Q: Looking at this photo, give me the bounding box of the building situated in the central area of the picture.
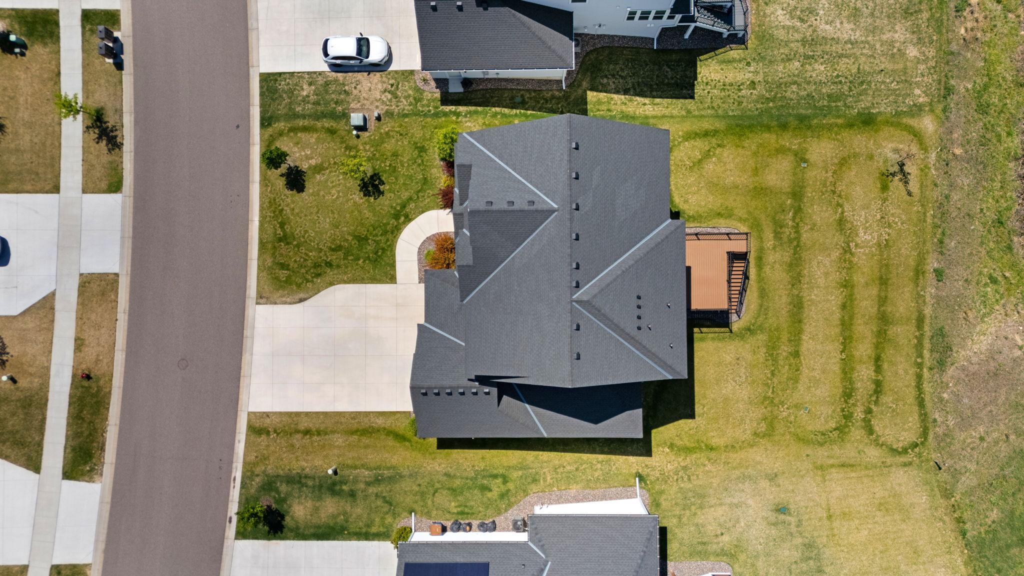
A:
[410,113,687,439]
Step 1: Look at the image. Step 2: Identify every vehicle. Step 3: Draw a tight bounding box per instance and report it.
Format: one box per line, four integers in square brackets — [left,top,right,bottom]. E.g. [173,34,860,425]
[322,31,391,67]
